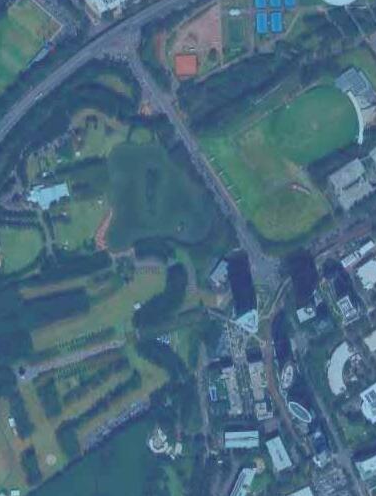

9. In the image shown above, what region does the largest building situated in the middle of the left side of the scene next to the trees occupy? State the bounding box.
[28,183,69,209]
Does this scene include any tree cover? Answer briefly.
Yes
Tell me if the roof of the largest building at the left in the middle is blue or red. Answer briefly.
blue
